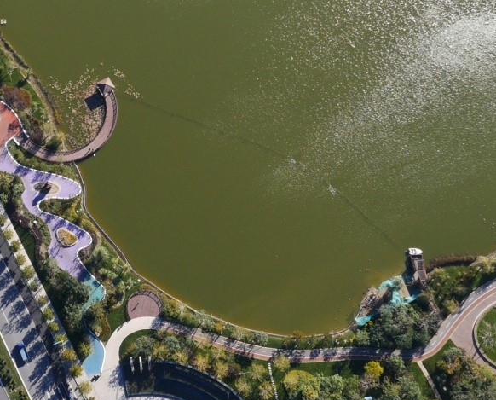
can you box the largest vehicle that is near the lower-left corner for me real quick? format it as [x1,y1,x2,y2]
[16,342,28,361]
